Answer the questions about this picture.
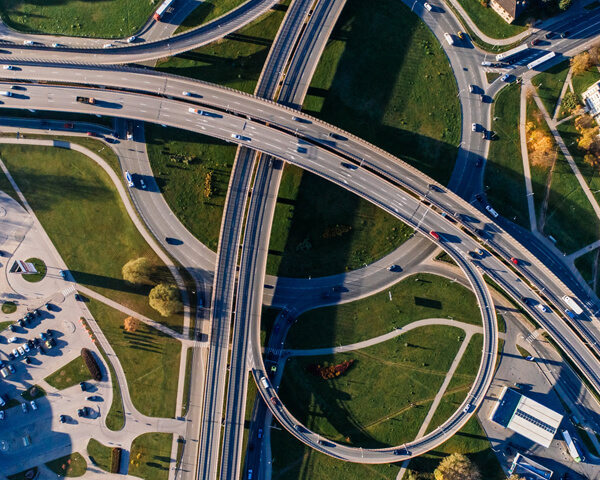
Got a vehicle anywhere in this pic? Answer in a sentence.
Yes, a vehicle can be made out from above.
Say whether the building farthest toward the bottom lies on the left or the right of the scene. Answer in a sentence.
You can find the building farthest toward the bottom on the right side of the picture.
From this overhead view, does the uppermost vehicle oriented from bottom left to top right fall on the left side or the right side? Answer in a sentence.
The uppermost vehicle oriented from bottom left to top right sits on the left side.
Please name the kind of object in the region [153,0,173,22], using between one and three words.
vehicle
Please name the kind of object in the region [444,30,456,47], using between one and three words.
vehicle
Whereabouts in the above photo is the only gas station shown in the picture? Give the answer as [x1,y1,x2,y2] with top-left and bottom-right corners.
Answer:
[486,383,562,448]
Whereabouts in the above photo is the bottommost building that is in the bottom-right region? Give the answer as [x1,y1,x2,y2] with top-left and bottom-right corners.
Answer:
[504,448,553,480]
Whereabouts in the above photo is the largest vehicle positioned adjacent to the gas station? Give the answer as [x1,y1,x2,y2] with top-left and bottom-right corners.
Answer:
[559,428,581,462]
